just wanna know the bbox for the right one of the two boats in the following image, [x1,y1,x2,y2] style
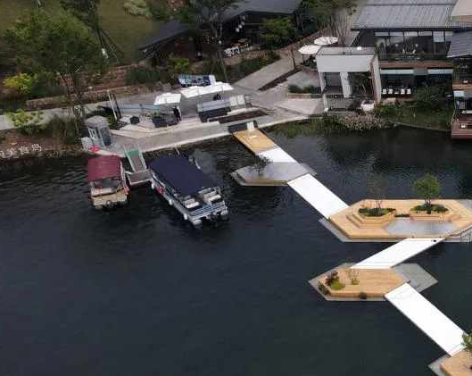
[144,148,229,232]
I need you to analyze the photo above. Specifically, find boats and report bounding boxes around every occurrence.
[79,151,128,211]
[144,148,229,232]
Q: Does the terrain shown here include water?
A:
Yes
